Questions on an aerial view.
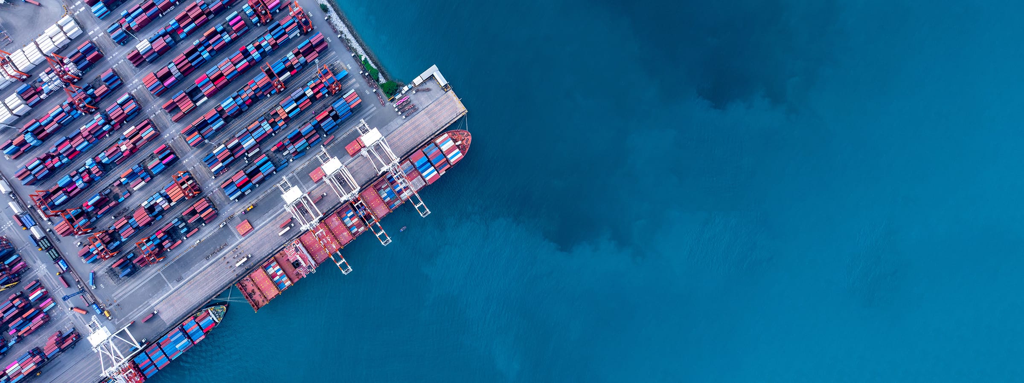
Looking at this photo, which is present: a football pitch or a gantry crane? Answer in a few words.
gantry crane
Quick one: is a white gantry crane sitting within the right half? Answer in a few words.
No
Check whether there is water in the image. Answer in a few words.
Yes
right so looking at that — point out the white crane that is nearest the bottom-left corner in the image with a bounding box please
[84,313,155,383]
